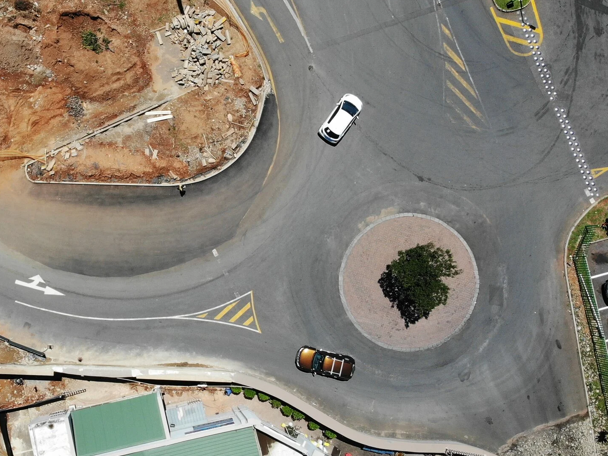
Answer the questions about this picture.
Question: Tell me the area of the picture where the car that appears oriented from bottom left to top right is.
top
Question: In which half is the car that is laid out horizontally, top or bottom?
bottom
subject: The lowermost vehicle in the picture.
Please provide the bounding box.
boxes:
[293,345,357,382]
